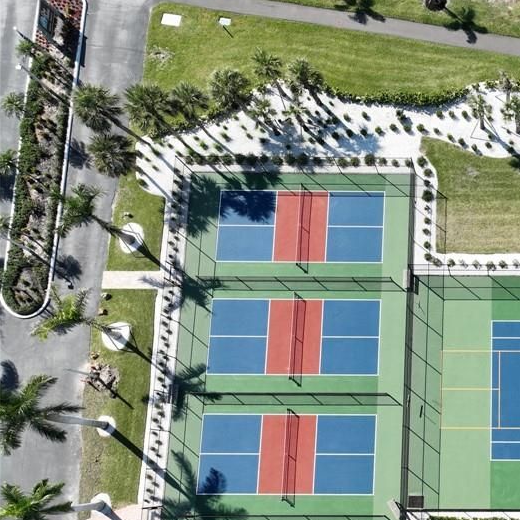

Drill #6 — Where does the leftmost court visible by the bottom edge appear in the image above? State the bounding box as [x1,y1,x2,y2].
[197,414,376,495]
